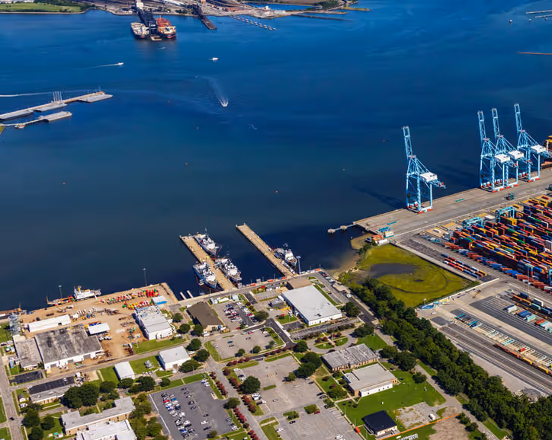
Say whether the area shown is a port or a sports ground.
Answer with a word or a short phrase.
port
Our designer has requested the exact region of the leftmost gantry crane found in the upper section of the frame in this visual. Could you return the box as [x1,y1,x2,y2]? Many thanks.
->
[403,127,446,213]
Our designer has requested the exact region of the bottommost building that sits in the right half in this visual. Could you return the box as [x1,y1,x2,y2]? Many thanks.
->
[362,410,397,438]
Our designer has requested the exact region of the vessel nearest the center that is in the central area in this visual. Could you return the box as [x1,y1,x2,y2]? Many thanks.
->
[271,246,297,269]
